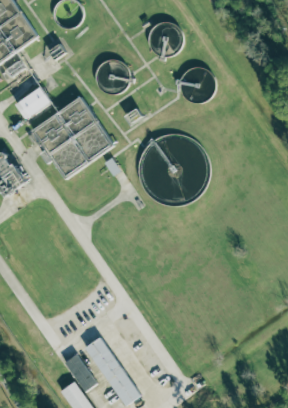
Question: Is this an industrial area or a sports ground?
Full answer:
The area seen from above is an industrial area.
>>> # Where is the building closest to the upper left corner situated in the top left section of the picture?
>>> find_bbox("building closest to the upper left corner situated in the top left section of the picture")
[16,86,54,122]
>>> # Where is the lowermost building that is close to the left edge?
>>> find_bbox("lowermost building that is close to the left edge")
[0,150,34,199]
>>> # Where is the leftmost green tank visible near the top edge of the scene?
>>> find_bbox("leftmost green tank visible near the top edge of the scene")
[54,0,88,31]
